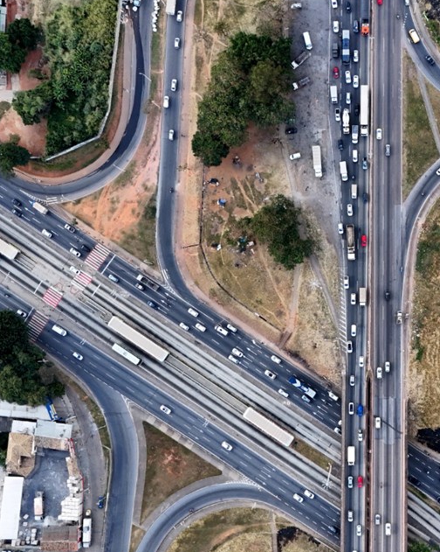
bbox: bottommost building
[39,522,80,551]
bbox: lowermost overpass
[343,340,368,552]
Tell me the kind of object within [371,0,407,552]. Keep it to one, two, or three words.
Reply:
bridge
